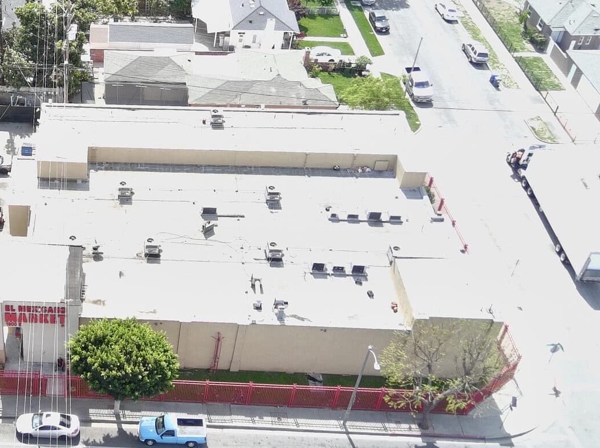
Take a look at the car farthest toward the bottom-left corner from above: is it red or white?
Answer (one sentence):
The car farthest toward the bottom-left corner looks white in the image.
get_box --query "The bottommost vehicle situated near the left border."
[17,412,80,442]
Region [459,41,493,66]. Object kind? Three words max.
car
